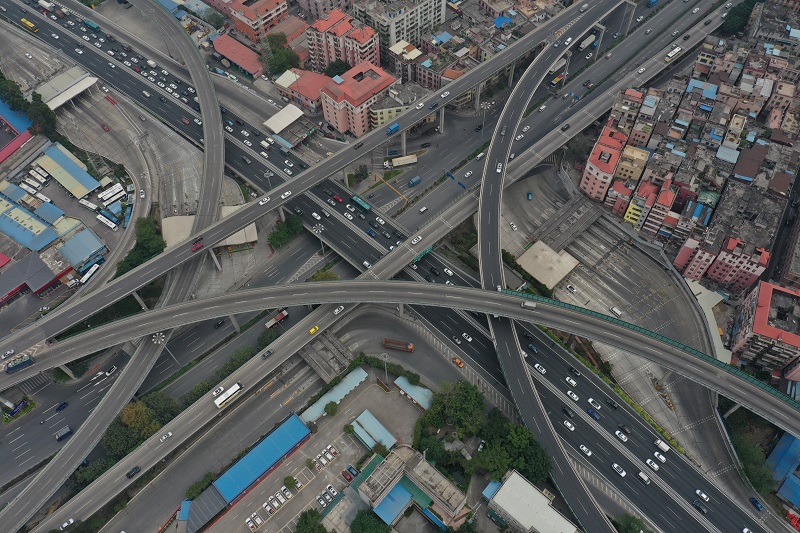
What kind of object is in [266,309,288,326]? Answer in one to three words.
vehicle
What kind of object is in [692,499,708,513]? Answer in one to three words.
car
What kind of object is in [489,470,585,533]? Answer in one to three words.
building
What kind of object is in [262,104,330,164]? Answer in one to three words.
toll station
